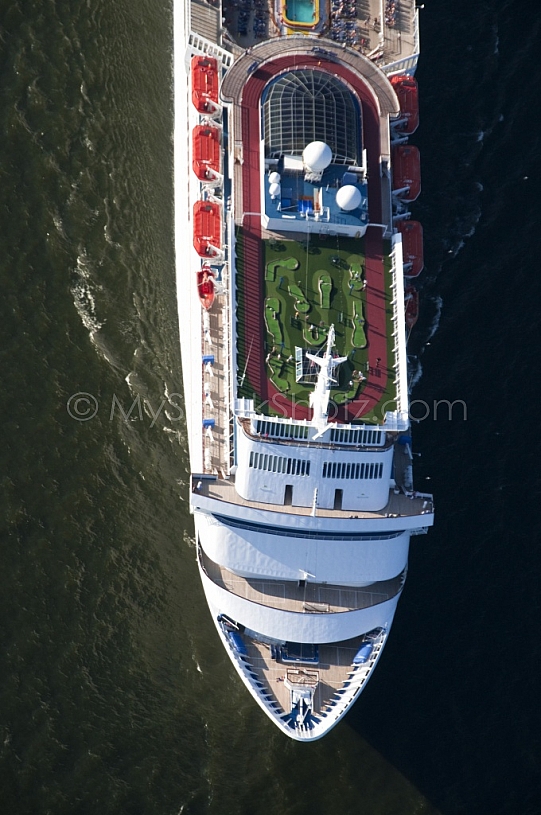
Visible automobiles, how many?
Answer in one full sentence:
The count of automobiles is 0.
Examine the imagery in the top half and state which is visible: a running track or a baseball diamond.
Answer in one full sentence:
It is a running track that can be seen in the top half.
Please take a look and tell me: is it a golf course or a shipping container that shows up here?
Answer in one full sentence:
This aerial view contains a golf course.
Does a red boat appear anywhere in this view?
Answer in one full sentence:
Yes, there's a red boat here.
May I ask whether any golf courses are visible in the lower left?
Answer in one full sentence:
No, no golf course can be made out in the lower left.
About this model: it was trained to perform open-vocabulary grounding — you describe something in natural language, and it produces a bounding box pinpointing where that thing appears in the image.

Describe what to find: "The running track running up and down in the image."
[241,54,388,423]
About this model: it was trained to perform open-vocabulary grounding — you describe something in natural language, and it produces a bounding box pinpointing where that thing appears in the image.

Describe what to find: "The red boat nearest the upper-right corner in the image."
[389,69,417,126]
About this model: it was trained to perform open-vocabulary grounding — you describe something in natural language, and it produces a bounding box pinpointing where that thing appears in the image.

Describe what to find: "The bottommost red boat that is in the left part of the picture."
[198,263,216,314]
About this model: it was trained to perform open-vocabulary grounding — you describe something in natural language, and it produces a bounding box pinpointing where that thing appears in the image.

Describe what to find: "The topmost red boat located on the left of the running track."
[190,59,220,113]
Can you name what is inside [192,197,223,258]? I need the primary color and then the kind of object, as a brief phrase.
red boat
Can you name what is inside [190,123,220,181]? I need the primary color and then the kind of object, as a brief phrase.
red boat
